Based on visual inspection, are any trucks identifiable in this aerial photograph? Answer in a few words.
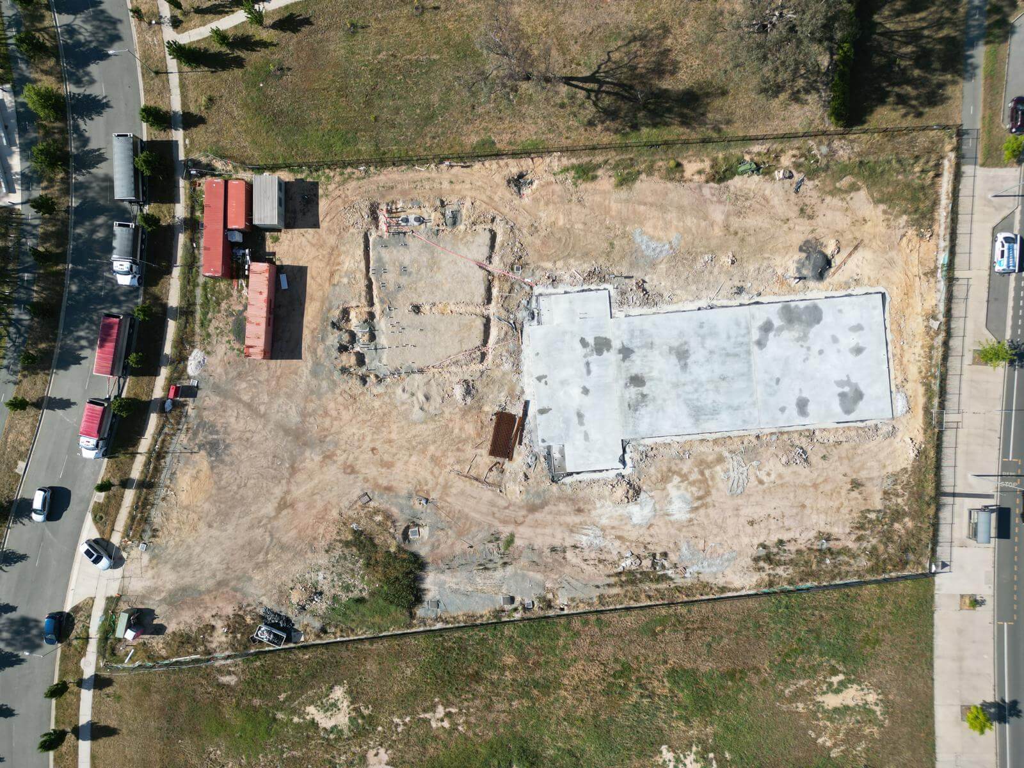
Yes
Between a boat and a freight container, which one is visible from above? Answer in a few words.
freight container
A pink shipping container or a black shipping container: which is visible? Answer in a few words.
pink shipping container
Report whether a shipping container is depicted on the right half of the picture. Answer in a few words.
No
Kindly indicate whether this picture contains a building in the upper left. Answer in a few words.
Yes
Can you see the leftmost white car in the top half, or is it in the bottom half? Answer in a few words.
bottom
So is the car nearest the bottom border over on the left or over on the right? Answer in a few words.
left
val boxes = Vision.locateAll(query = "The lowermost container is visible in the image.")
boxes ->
[244,262,276,360]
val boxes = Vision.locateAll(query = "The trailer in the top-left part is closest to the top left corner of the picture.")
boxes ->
[113,133,146,222]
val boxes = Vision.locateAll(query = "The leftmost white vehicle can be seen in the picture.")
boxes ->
[29,489,51,523]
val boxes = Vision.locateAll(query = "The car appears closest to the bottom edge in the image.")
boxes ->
[44,611,65,644]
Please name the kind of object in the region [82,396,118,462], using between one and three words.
truck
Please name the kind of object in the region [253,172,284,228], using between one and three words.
building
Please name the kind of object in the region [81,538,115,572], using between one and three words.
car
